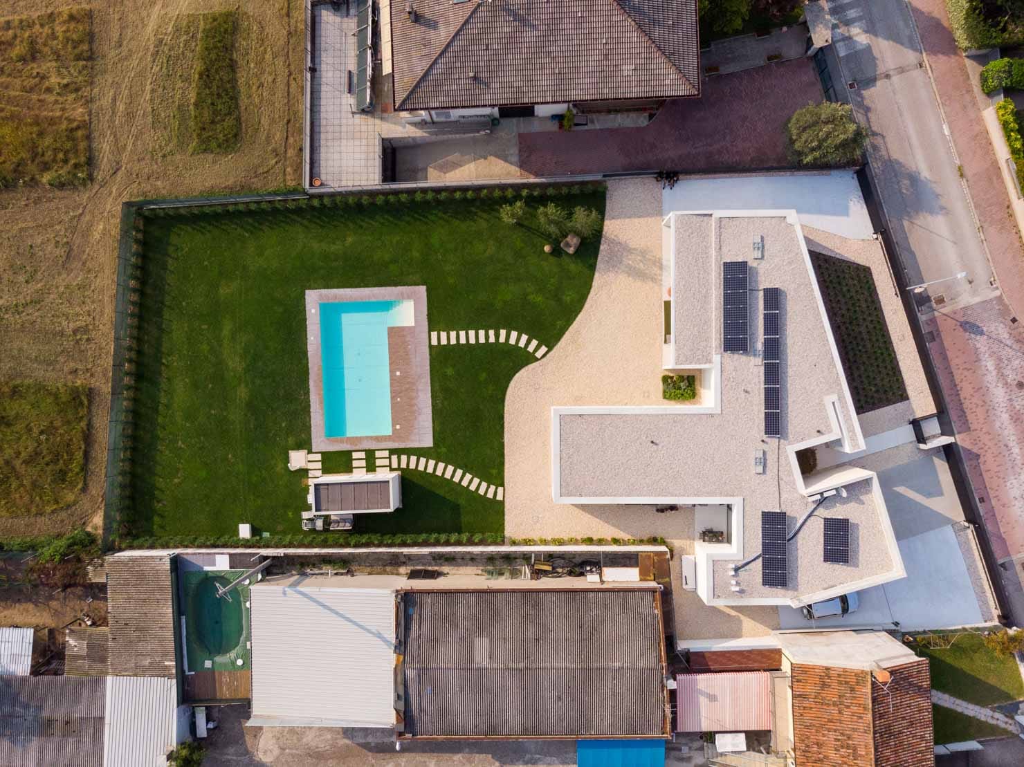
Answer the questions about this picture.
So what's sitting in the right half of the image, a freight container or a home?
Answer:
home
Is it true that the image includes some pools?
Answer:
Yes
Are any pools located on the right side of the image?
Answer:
No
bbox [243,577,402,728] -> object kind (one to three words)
shed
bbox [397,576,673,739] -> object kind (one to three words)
shed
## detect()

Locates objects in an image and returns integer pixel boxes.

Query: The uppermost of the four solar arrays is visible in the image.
[724,261,749,353]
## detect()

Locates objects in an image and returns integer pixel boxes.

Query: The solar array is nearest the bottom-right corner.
[823,516,849,564]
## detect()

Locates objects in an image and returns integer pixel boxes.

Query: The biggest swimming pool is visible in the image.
[320,299,414,438]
